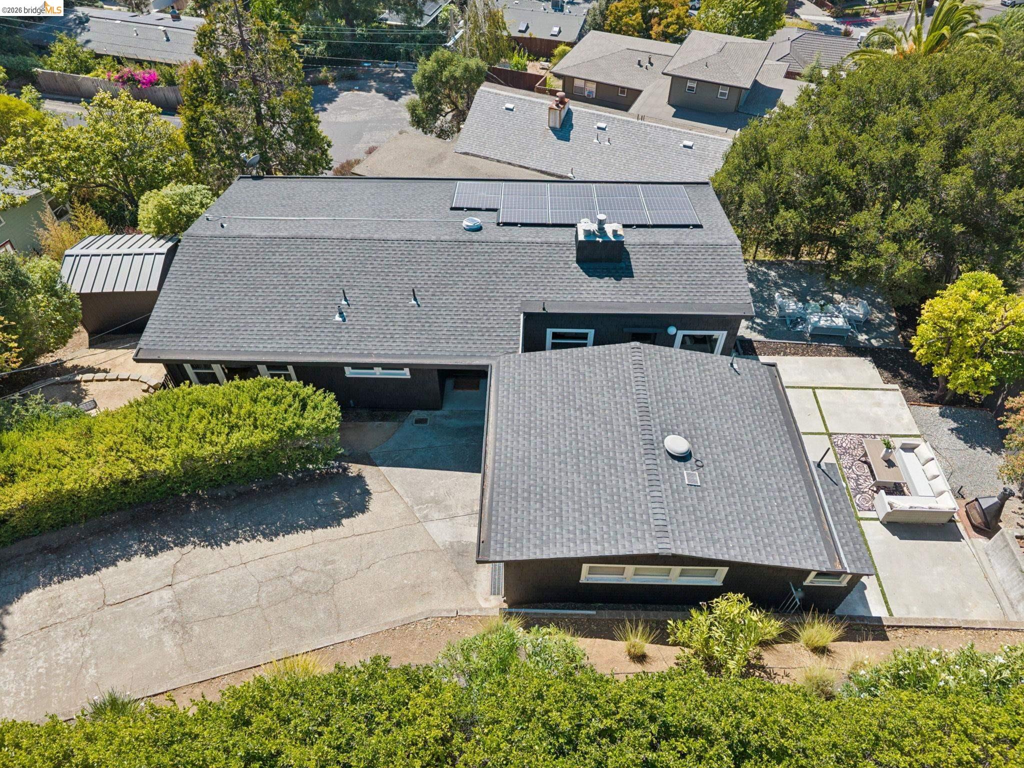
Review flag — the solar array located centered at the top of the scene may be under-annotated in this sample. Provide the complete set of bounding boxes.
[447,178,708,229]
